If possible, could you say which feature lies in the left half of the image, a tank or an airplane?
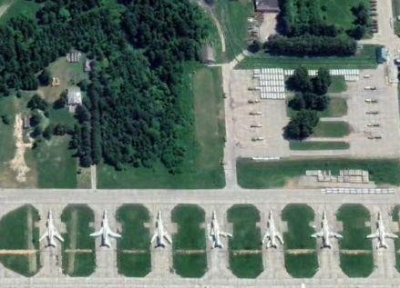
airplane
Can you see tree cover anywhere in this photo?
Yes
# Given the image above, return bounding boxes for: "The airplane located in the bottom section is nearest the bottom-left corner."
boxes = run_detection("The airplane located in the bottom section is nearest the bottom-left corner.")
[40,209,64,247]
